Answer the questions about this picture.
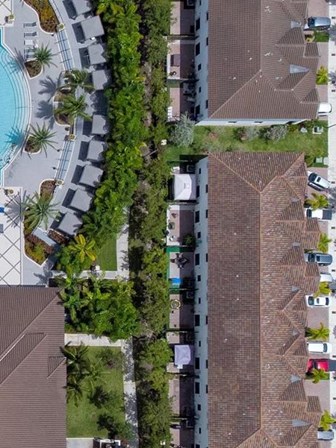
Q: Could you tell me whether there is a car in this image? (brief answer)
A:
Yes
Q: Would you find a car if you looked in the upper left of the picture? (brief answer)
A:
No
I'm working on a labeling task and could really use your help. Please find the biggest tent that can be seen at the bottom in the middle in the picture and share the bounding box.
[169,347,192,365]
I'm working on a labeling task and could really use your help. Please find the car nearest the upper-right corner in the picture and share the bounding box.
[307,16,334,33]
